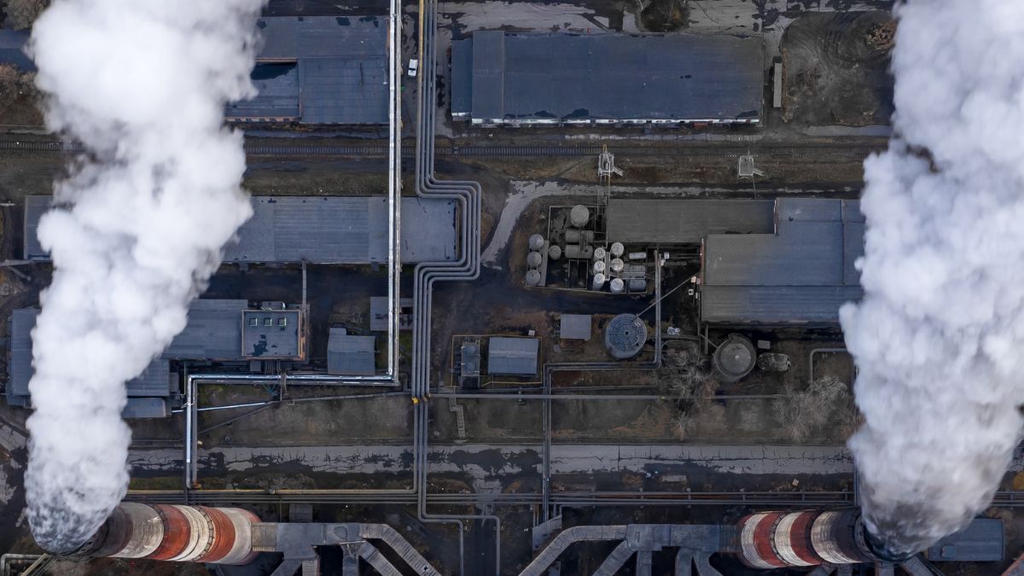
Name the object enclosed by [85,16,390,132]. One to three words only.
building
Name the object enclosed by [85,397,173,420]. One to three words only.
building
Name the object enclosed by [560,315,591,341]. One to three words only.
shed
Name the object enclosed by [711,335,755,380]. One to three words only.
storage tank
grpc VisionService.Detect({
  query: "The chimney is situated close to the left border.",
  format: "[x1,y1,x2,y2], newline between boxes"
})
[51,497,257,565]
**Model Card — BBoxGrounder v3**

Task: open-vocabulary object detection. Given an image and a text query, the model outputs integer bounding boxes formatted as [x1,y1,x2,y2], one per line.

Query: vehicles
[770,58,781,111]
[408,58,418,77]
